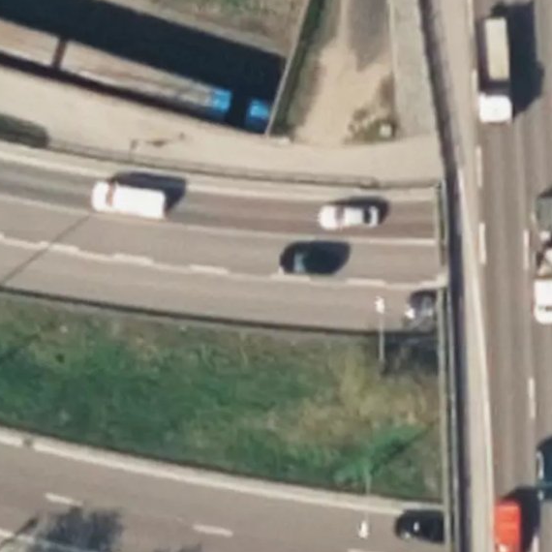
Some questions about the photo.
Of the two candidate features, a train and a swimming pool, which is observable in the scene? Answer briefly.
train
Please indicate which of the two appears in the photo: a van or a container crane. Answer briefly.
van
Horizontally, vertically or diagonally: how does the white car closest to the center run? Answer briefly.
horizontally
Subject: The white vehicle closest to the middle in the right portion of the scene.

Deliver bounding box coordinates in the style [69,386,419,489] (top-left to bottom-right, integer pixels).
[318,202,378,230]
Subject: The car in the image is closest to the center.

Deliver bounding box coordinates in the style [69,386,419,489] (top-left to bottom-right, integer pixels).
[279,243,339,272]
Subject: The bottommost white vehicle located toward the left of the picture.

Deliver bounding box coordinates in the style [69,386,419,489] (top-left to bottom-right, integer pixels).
[91,181,167,216]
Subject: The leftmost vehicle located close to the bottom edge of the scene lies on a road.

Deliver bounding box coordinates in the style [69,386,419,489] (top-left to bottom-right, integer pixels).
[396,512,446,543]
